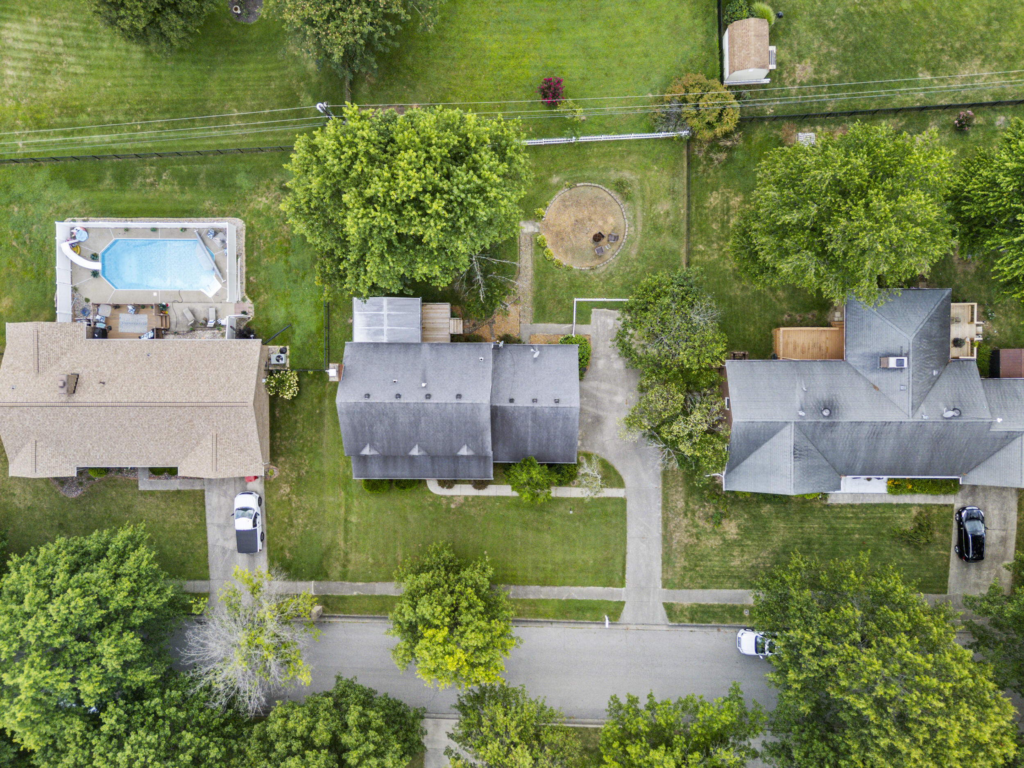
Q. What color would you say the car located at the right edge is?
black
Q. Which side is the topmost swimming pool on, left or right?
left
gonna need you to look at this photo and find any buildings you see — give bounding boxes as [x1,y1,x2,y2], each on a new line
[724,15,772,89]
[324,296,581,481]
[710,287,1024,494]
[0,321,277,478]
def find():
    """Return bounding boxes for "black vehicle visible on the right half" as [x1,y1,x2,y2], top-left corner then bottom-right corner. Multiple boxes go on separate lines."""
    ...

[954,504,989,562]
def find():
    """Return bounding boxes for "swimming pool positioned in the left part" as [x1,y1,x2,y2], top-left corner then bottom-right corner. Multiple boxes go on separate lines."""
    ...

[98,237,221,297]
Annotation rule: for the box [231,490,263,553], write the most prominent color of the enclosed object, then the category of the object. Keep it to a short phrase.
white truck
